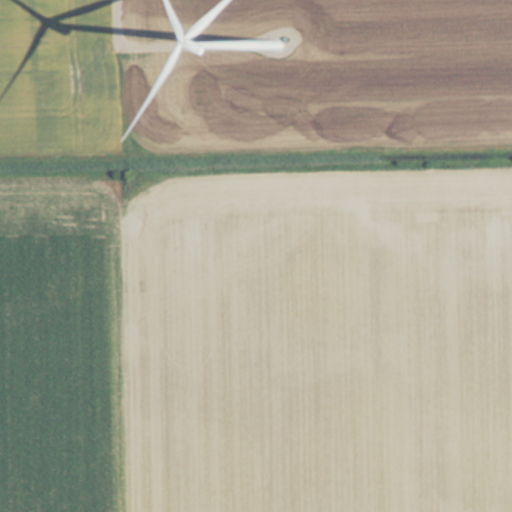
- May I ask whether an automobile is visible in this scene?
No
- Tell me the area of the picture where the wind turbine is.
top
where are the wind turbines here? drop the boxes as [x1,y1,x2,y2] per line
[124,0,289,141]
